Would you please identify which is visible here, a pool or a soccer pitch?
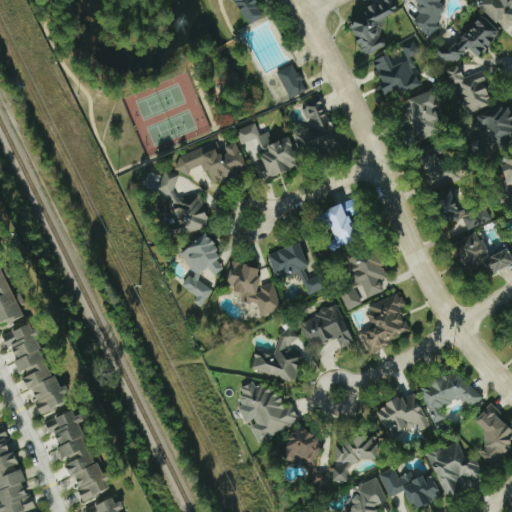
pool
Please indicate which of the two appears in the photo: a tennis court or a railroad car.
tennis court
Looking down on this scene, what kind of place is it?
residential area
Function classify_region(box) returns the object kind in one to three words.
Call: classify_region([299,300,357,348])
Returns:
house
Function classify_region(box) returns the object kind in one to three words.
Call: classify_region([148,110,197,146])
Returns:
tennis court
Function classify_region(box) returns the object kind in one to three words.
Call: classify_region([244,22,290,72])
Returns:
swimming pool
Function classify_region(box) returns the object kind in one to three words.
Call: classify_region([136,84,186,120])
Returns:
tennis court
